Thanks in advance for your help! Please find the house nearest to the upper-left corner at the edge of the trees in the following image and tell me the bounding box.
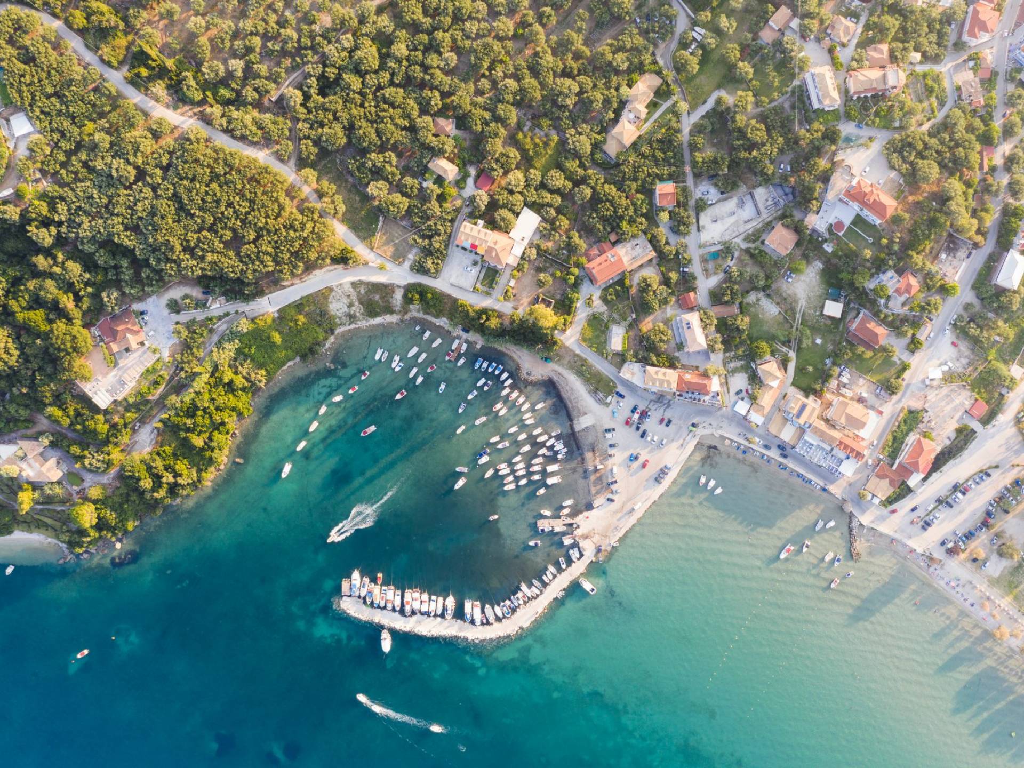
[2,110,36,148]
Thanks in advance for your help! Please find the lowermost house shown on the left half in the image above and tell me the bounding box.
[0,439,70,482]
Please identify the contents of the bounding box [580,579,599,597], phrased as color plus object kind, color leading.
white boat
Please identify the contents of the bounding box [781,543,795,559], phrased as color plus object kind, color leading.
white boat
